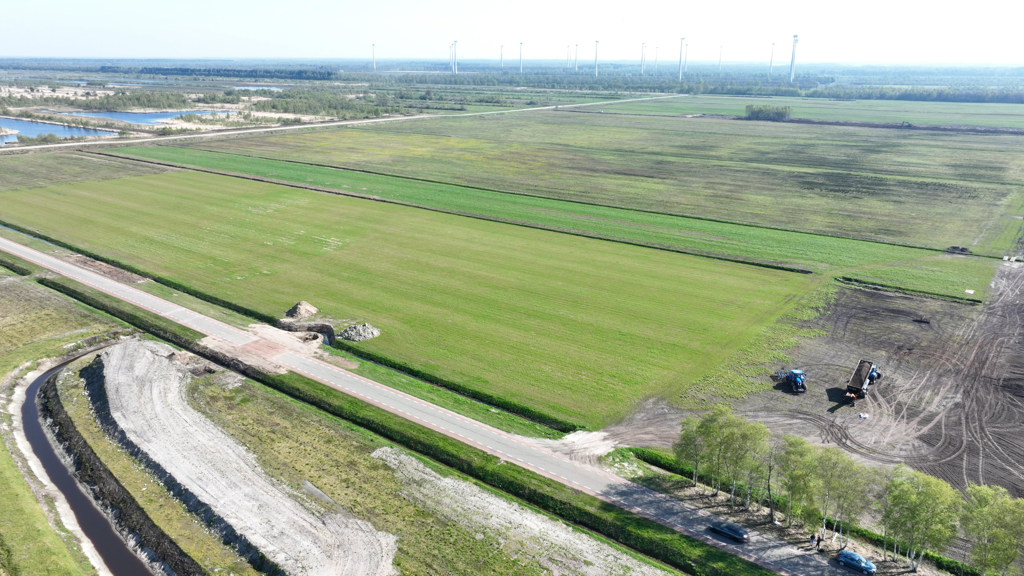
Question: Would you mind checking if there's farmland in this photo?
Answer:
Yes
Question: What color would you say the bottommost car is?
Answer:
blue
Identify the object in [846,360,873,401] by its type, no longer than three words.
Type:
trailer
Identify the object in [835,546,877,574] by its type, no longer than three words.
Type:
car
